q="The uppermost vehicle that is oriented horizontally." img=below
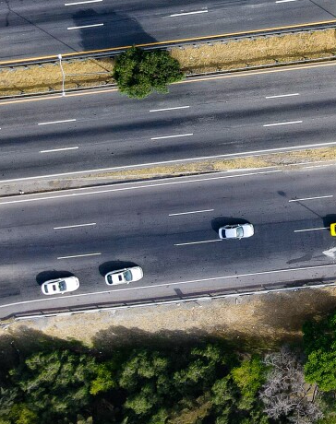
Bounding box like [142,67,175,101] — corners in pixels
[218,221,256,240]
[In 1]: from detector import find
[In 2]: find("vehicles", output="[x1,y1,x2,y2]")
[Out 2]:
[330,222,336,236]
[104,265,144,286]
[40,274,81,294]
[218,221,256,240]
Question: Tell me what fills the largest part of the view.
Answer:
paved ground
